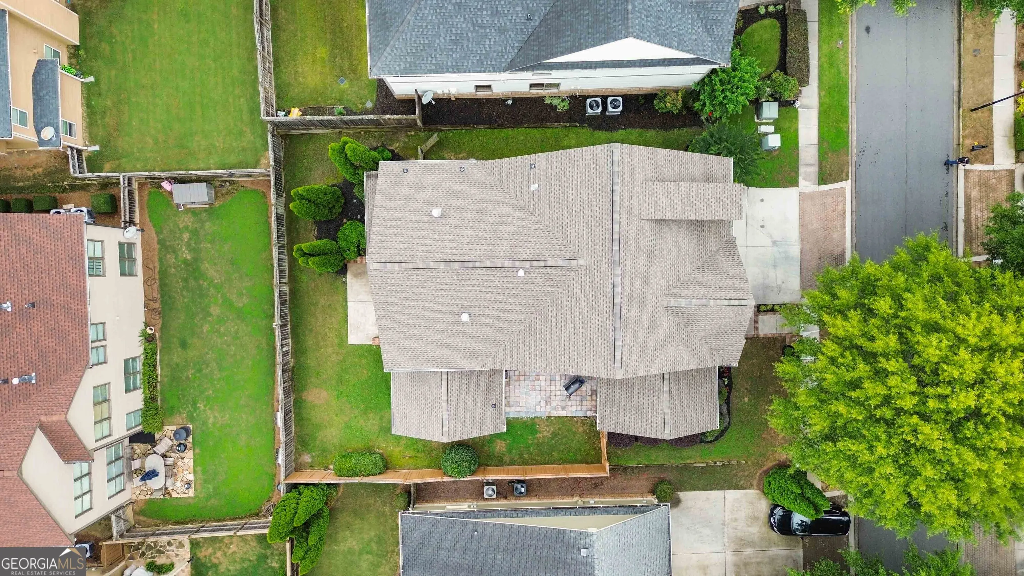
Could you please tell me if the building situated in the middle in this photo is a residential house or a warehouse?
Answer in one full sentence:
The building situated in the middle appears to be a residential house.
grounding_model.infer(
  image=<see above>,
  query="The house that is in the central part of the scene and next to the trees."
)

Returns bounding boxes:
[345,141,757,443]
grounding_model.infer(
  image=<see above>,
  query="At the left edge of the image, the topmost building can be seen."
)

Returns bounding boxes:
[0,0,99,151]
